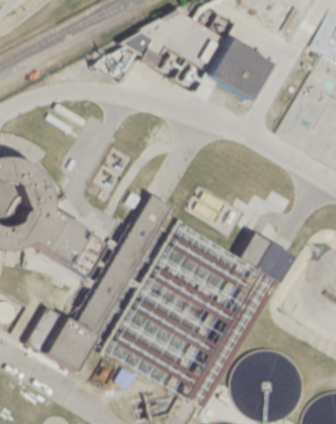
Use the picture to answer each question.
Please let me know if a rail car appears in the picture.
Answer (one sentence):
No, the scene contains no rail car.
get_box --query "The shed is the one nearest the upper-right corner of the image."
[208,38,275,99]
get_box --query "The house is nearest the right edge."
[257,243,290,282]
